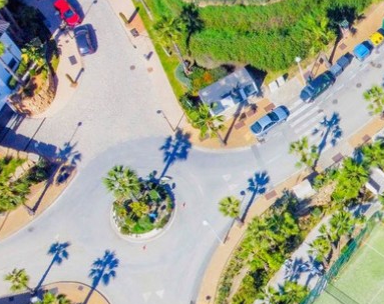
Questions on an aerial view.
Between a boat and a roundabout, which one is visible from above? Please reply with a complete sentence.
Visible in the photo is a roundabout.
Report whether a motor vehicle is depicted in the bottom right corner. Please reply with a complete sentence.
No, no motor vehicle is visible in the bottom right corner.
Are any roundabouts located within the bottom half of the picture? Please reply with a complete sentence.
Yes, a roundabout can be seen within the bottom half of the picture.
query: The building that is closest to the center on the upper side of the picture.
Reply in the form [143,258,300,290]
[199,67,265,123]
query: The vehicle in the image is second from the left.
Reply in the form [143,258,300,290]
[71,21,96,54]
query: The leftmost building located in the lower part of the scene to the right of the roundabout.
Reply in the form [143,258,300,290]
[288,175,314,200]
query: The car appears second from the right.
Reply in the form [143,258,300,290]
[297,67,334,100]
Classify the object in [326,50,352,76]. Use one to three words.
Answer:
car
